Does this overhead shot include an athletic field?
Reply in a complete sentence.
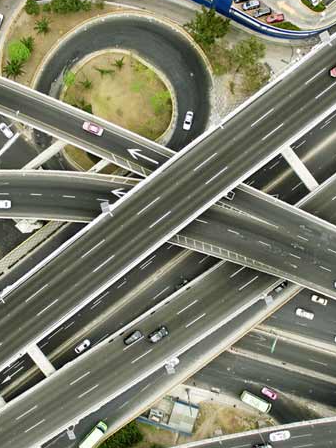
No, no athletic field is visible in the scene.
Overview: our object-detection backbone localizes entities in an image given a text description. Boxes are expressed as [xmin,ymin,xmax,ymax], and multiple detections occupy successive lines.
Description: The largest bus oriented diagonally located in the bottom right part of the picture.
[239,389,272,417]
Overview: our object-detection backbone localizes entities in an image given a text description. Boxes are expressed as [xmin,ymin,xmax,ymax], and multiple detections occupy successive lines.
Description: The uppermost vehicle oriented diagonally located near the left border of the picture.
[0,122,14,140]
